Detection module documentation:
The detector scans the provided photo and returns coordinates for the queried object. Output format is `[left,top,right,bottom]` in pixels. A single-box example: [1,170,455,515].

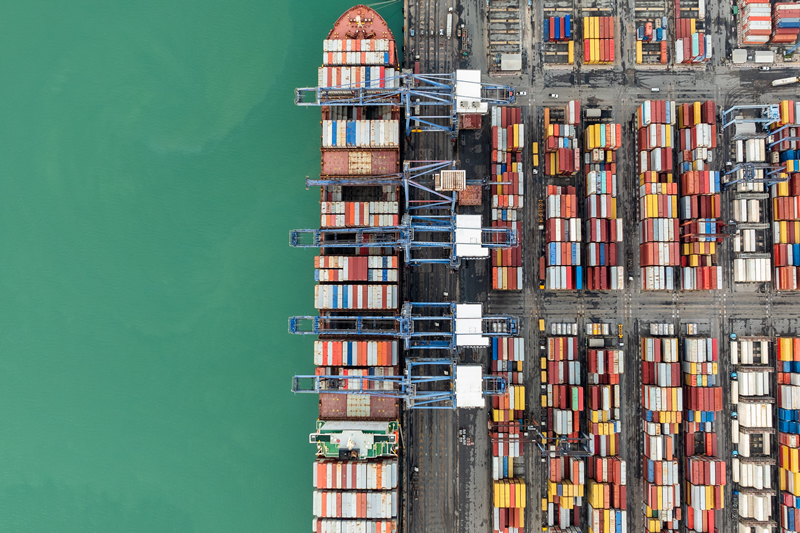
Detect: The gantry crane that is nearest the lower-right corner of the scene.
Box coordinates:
[538,428,592,457]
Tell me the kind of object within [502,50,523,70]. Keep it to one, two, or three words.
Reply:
shed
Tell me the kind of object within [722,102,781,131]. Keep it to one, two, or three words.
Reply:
container crane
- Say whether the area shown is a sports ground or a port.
port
